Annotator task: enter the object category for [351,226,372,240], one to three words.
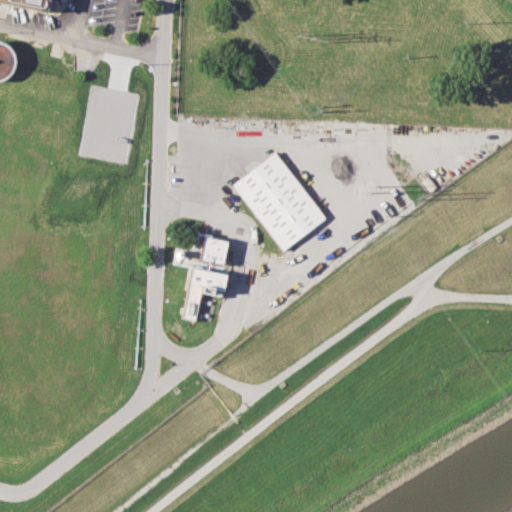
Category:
vehicle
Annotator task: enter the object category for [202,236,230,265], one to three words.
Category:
building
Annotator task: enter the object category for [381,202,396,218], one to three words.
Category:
vehicle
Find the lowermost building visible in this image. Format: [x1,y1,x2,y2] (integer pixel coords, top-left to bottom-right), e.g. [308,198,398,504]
[180,269,228,322]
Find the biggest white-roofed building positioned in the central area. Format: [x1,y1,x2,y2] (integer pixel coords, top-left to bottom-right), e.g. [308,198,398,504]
[234,152,326,252]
